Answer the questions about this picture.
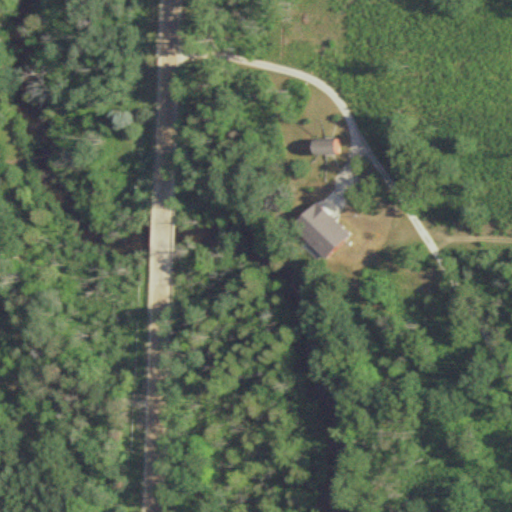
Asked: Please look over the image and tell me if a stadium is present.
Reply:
No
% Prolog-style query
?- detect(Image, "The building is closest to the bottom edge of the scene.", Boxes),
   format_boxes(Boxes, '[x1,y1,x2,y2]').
[294,202,350,259]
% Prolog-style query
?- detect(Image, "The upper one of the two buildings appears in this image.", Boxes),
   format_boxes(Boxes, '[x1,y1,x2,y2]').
[311,138,342,156]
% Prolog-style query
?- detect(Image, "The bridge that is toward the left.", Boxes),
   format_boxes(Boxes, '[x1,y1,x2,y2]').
[148,222,176,284]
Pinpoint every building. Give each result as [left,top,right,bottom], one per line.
[311,138,342,156]
[294,202,350,259]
